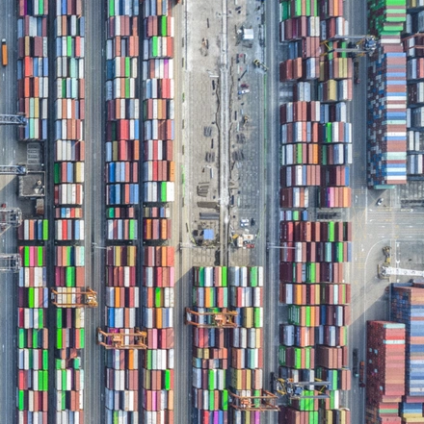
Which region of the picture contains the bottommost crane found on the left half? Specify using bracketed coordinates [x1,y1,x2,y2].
[94,326,148,350]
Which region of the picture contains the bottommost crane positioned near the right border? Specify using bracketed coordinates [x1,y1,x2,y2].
[378,263,424,281]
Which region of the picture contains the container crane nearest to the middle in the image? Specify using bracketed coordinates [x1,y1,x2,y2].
[181,306,239,329]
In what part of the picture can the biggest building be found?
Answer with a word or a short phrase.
left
